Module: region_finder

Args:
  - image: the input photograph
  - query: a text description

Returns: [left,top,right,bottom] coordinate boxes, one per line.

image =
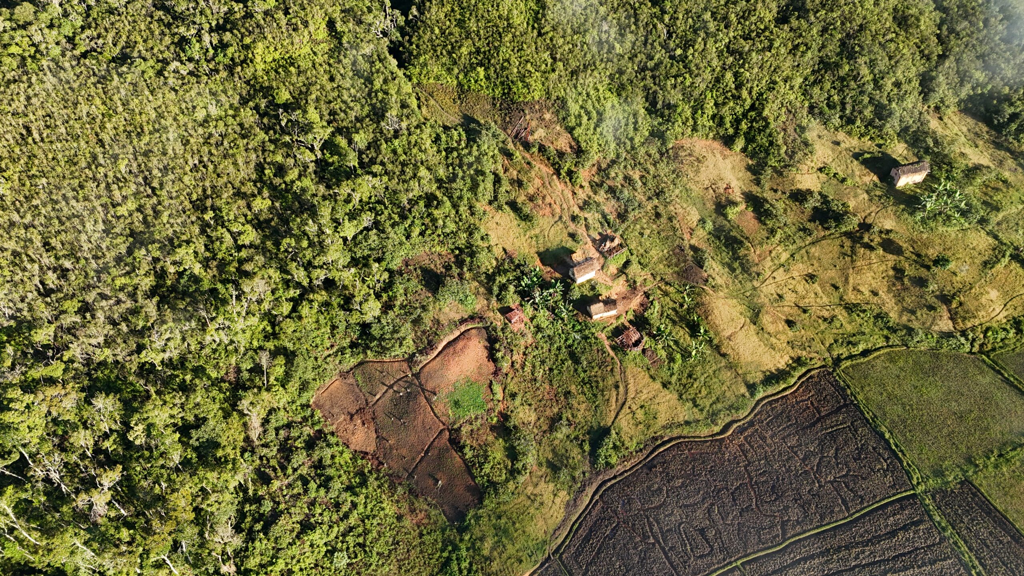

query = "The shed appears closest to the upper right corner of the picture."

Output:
[889,161,932,187]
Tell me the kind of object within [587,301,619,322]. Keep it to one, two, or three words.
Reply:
shed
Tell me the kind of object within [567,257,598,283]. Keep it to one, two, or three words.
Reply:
shed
